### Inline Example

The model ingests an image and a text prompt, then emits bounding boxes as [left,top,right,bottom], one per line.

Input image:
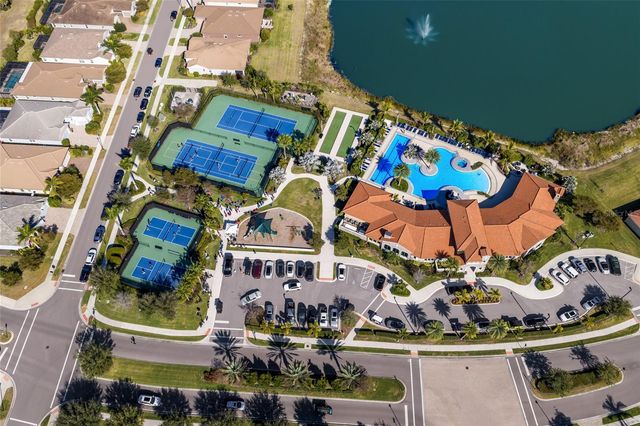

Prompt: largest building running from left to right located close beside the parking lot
[342,172,565,268]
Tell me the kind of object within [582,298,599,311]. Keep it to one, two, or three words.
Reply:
vehicle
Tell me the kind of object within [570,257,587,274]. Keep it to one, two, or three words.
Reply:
car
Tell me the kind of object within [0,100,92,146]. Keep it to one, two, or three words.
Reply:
house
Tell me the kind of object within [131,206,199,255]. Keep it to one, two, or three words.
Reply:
sports court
